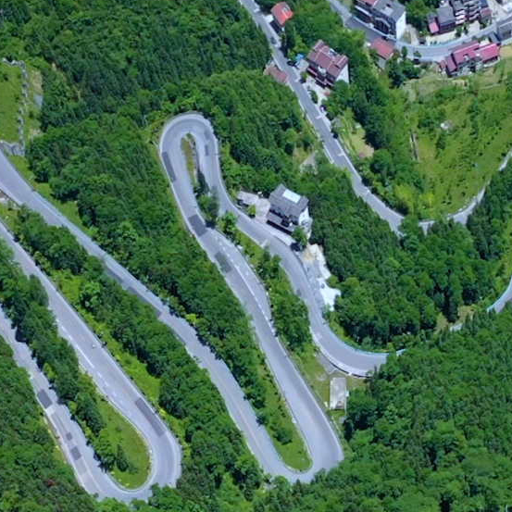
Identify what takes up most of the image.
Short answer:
trees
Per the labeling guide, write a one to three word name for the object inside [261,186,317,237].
house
